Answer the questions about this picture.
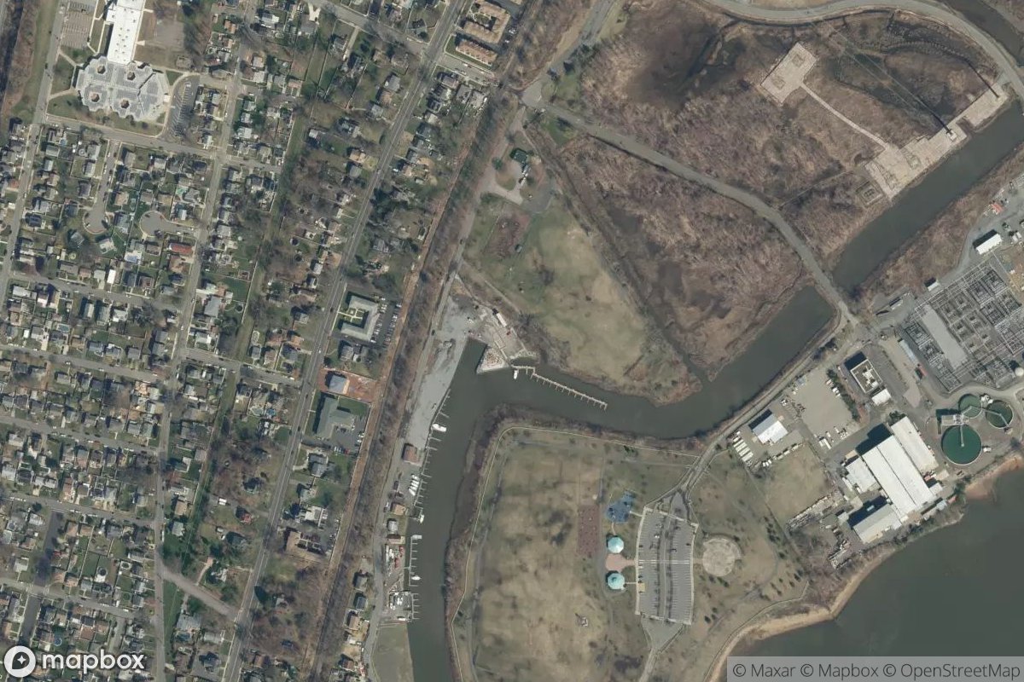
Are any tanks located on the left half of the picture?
No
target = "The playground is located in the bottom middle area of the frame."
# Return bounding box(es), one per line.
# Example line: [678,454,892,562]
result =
[606,491,636,523]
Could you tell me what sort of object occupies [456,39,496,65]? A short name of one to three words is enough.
house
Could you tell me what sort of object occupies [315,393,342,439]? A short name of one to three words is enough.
building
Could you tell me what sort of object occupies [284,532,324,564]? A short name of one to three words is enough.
building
